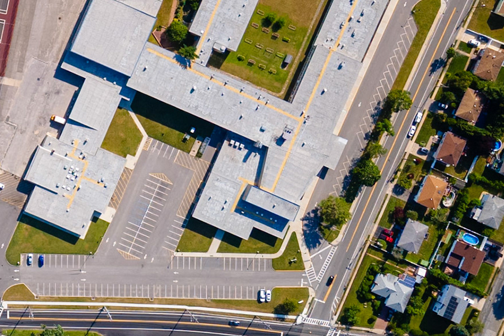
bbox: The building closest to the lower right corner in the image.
[434,283,467,323]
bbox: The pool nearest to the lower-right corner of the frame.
[463,233,480,246]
